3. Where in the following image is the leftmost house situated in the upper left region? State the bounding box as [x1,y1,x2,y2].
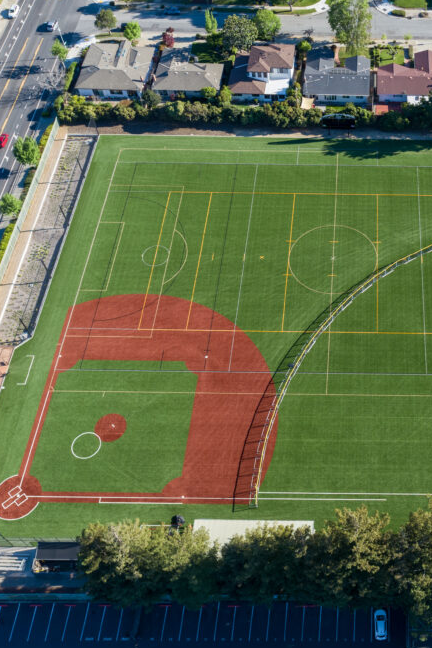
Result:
[75,37,154,97]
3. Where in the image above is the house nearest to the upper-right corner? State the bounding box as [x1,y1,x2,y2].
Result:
[377,47,432,103]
